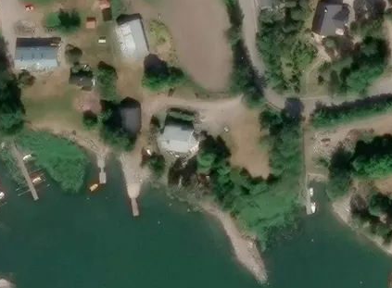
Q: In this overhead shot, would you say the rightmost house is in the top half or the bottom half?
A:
top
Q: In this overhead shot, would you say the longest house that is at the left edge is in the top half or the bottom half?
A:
top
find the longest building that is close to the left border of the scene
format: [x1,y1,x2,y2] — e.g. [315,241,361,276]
[14,45,58,66]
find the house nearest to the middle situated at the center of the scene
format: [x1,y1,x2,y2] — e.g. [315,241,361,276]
[161,123,200,158]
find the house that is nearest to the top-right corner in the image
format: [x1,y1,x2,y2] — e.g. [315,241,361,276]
[315,0,351,36]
